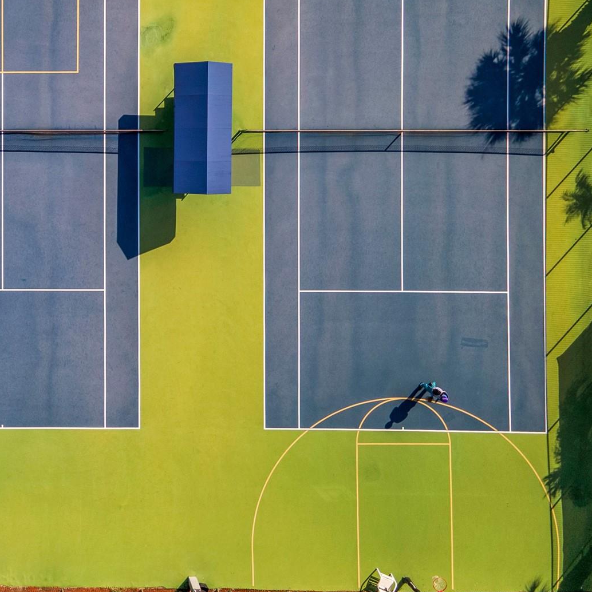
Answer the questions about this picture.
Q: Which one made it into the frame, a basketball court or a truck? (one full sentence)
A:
The image shows a basketball court.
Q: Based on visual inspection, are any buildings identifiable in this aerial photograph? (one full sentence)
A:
No, the picture doesn't show any building.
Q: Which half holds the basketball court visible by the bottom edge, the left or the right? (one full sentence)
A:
The basketball court visible by the bottom edge is on the right side of the image.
